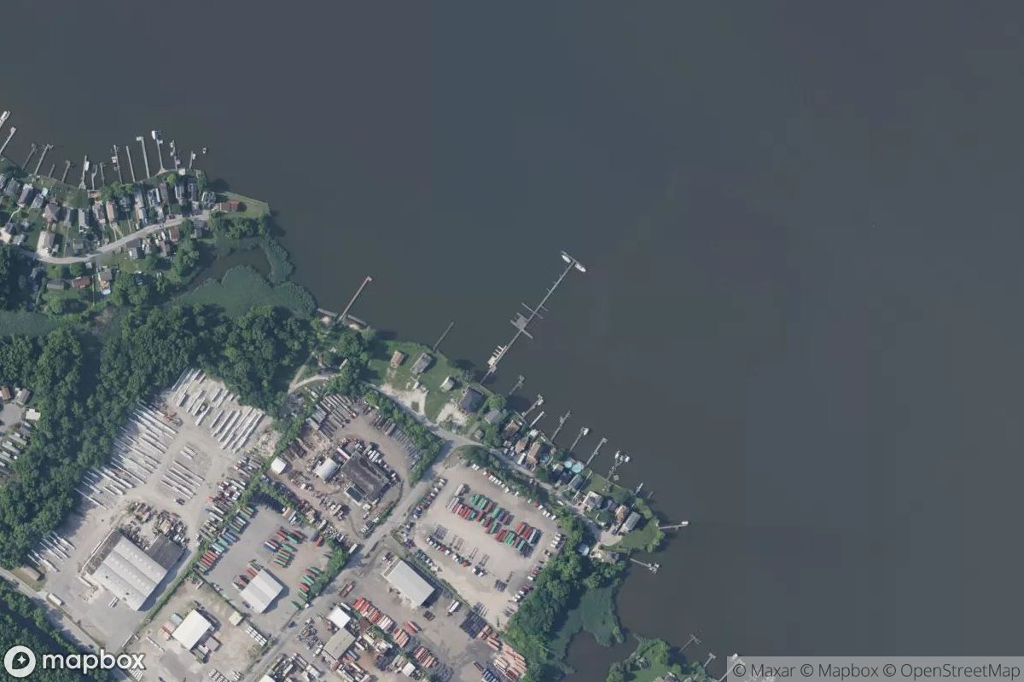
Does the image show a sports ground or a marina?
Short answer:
marina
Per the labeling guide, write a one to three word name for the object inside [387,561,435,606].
building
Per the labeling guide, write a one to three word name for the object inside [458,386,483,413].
house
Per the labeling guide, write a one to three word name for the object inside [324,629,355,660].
building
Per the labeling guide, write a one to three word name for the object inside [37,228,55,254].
house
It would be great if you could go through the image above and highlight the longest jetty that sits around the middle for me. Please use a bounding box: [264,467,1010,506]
[480,251,579,384]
